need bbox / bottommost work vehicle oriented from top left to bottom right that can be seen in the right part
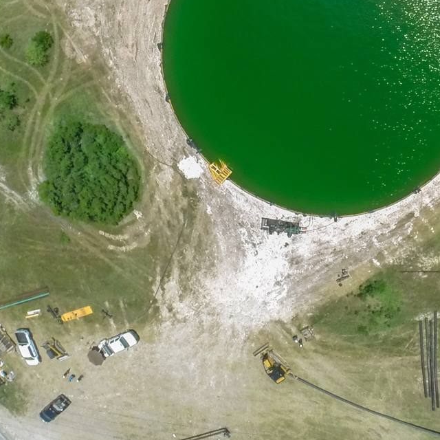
[256,347,293,377]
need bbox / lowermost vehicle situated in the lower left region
[39,390,74,424]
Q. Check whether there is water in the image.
Yes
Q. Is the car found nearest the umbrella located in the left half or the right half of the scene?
left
